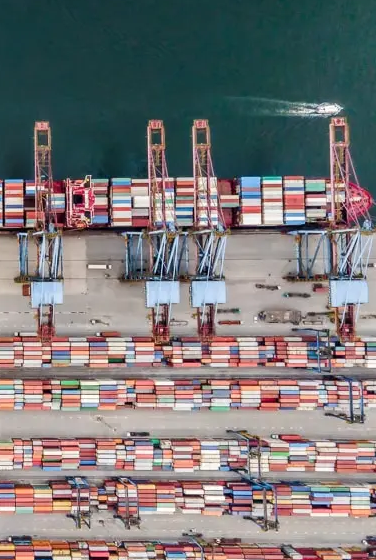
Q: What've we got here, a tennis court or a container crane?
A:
container crane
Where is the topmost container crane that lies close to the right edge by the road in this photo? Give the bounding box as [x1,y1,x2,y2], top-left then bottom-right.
[272,113,376,336]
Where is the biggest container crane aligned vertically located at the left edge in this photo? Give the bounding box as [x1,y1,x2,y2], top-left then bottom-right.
[5,115,66,338]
